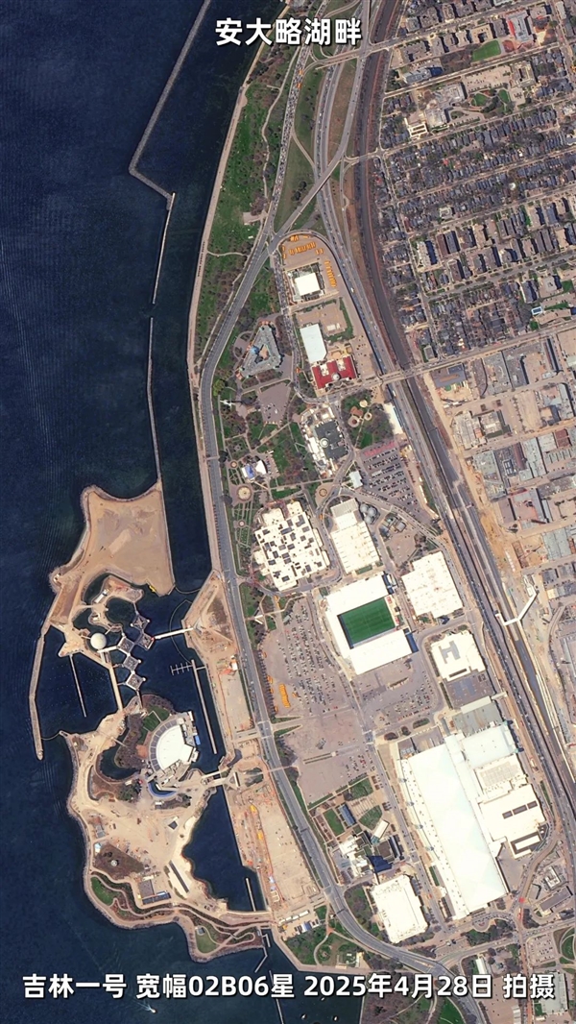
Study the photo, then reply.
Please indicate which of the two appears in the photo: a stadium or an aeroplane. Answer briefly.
stadium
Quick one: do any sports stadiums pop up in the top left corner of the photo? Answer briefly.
No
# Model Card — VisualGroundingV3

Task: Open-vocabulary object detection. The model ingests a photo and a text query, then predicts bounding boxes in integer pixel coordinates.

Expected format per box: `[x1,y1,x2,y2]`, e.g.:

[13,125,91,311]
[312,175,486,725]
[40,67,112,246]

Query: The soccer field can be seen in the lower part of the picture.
[340,598,395,645]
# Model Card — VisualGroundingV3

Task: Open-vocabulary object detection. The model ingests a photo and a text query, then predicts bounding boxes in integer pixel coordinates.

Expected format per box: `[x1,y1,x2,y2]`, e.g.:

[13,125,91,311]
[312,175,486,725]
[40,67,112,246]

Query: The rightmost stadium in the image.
[324,571,413,673]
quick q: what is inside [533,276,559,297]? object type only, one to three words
building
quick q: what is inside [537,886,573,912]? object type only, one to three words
shed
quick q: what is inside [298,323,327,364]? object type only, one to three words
building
